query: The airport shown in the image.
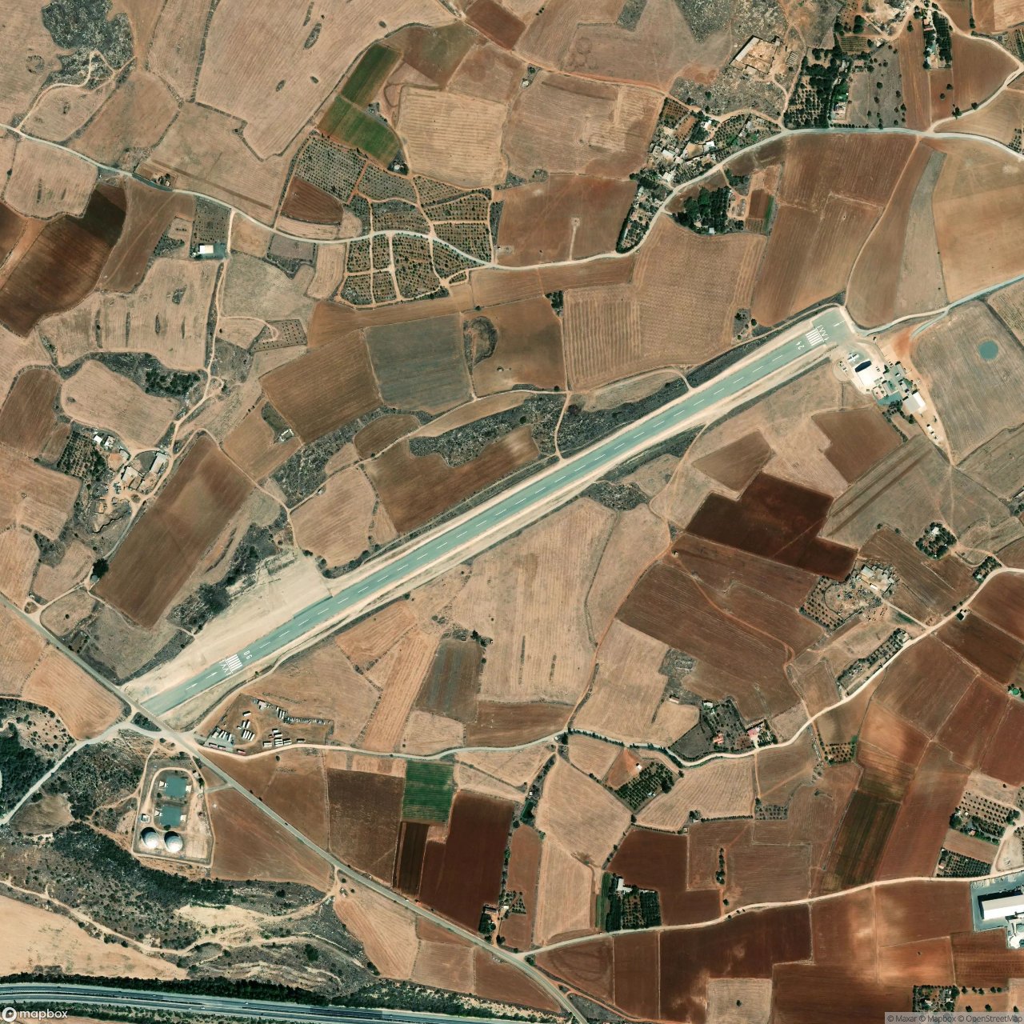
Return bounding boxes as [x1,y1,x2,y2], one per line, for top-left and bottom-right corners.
[139,310,889,720]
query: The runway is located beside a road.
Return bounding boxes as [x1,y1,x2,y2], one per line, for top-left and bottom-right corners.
[145,326,823,717]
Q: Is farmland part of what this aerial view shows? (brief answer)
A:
Yes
